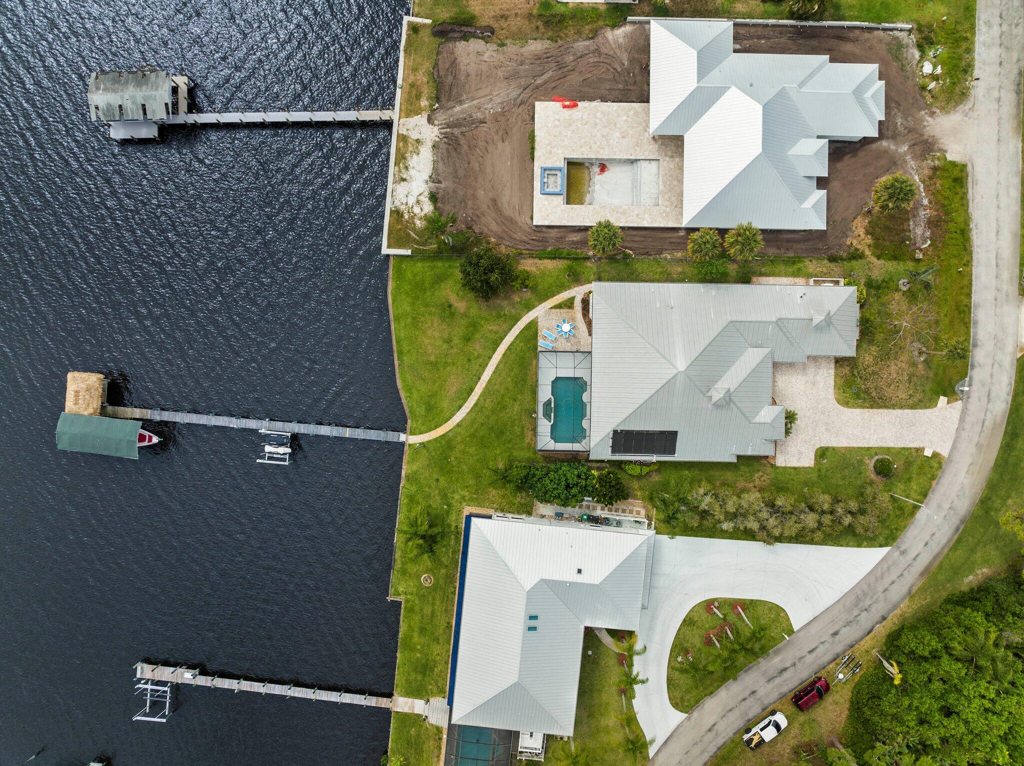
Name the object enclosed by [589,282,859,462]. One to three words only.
house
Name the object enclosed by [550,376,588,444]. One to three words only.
swimming pool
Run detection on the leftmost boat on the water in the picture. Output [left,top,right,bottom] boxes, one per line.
[137,429,162,446]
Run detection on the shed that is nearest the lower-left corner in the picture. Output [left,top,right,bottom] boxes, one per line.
[64,370,118,417]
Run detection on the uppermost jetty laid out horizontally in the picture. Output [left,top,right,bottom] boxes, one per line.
[102,73,395,143]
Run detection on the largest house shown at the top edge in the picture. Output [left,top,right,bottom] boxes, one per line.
[649,19,886,231]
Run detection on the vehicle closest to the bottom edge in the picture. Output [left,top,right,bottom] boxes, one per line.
[741,711,786,751]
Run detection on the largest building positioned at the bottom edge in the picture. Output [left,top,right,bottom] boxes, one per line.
[451,515,656,738]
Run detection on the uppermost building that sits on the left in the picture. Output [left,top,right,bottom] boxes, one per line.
[87,70,183,133]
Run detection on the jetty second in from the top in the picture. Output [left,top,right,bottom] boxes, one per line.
[102,405,406,445]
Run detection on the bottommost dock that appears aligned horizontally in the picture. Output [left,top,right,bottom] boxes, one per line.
[132,657,430,719]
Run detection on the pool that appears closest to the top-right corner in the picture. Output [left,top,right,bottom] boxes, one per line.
[565,159,659,206]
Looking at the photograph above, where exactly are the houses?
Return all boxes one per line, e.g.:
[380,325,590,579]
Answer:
[649,19,886,231]
[451,515,656,738]
[589,282,859,462]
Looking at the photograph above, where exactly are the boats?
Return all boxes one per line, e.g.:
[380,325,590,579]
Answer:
[265,445,291,454]
[266,435,291,443]
[137,429,162,446]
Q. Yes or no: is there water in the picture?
Yes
